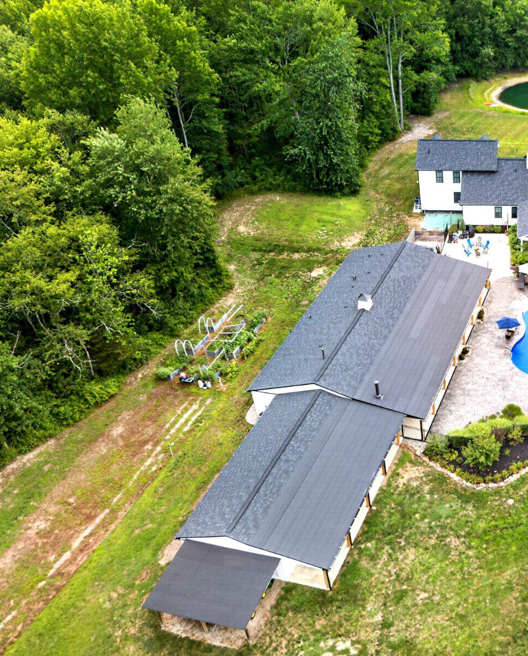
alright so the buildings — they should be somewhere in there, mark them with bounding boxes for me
[414,132,528,250]
[140,240,493,647]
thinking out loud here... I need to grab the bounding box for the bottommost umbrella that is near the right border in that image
[496,315,522,334]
